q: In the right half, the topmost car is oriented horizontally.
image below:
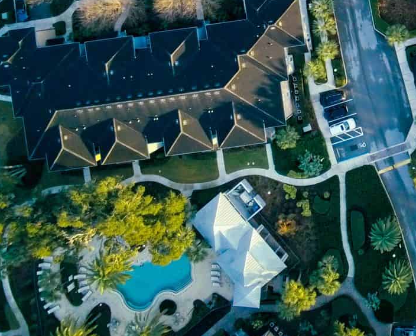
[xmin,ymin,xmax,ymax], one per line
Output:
[320,90,347,106]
